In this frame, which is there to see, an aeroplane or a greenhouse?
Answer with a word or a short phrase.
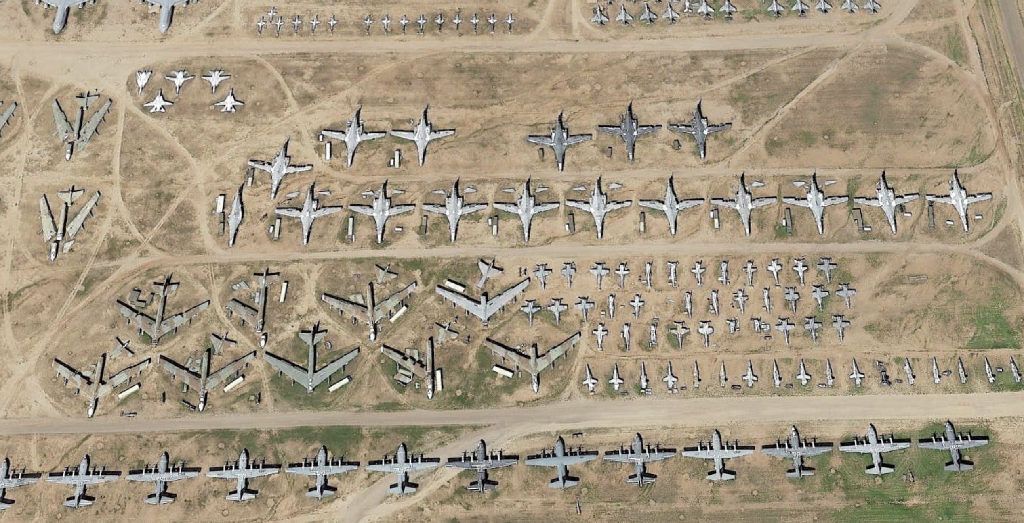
aeroplane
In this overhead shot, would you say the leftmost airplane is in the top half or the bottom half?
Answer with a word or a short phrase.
bottom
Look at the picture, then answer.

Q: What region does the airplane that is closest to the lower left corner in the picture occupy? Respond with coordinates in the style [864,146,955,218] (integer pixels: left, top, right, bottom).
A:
[0,464,38,514]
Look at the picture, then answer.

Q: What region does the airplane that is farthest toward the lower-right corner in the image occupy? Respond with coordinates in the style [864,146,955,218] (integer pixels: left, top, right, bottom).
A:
[917,427,990,477]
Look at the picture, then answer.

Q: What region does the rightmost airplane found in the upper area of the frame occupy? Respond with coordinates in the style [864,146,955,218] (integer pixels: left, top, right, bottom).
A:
[928,167,993,232]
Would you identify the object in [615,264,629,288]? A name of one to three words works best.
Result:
airplane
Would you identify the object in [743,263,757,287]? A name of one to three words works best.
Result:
airplane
